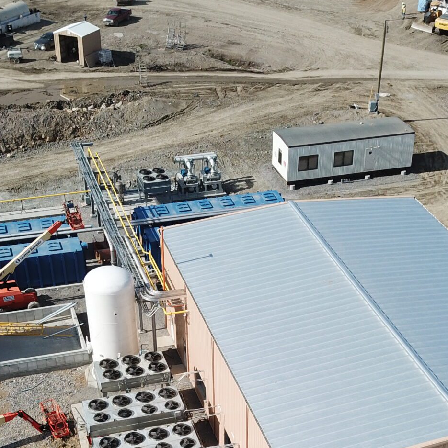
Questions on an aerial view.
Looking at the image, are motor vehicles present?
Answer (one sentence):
Yes, the picture does show a motor vehicle.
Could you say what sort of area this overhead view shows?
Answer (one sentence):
What you see here is an industrial area.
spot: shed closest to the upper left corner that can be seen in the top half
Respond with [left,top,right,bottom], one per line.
[52,17,104,66]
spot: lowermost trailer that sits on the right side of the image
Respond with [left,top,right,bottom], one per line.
[277,120,416,183]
